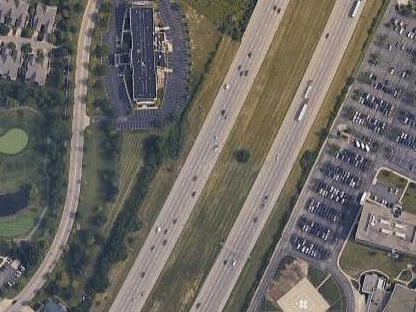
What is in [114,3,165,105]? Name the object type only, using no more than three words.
building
